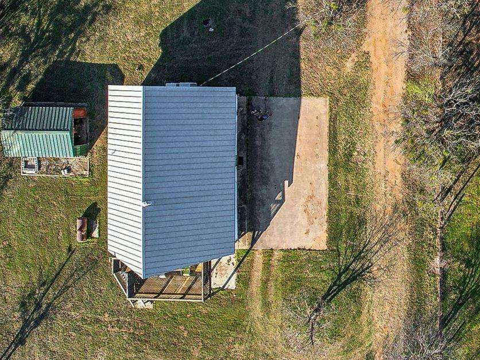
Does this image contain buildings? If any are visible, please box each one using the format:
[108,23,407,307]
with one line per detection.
[1,102,100,158]
[108,85,245,278]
